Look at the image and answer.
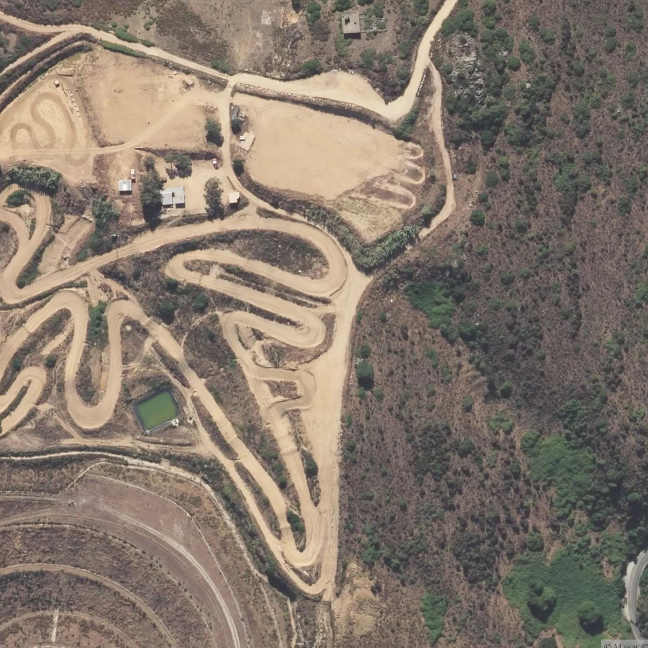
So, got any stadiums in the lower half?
No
